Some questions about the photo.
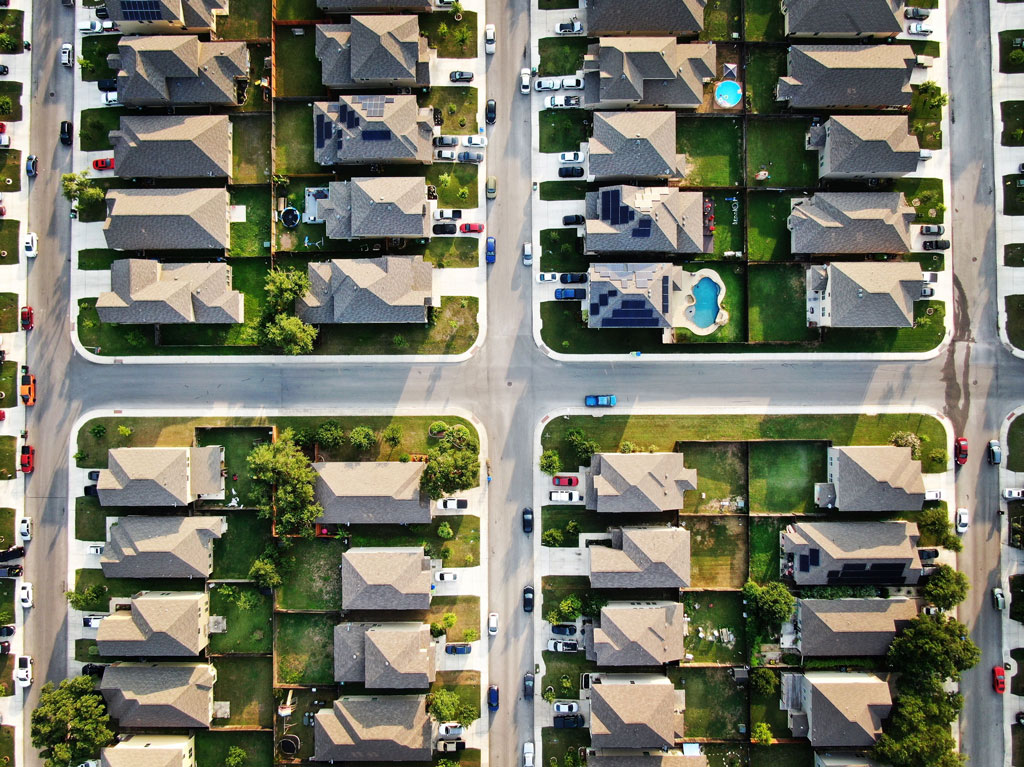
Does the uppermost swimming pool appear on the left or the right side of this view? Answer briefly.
right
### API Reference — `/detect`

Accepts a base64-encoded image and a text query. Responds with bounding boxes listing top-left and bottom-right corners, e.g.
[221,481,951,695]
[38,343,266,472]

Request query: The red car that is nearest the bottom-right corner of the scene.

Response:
[992,667,1005,692]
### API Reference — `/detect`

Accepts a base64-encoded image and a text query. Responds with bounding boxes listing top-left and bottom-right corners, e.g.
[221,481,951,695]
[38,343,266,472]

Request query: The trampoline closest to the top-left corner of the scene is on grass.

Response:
[279,206,299,225]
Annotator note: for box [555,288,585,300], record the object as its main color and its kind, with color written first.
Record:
blue vehicle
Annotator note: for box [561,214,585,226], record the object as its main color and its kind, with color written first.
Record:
black vehicle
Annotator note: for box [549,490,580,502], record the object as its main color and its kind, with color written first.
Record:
white vehicle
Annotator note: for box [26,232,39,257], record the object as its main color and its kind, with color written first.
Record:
white vehicle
